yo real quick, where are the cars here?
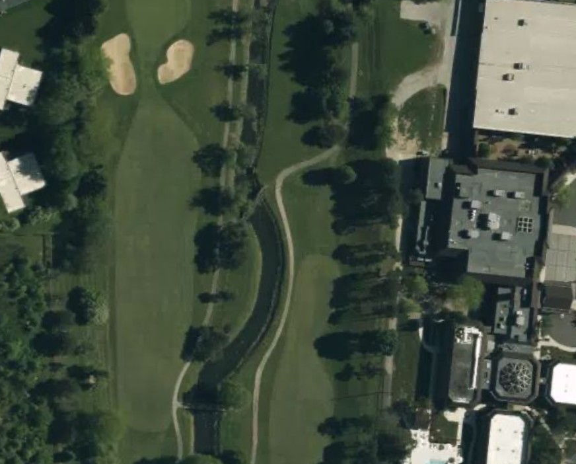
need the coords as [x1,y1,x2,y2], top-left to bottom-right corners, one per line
[420,21,431,33]
[417,150,429,155]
